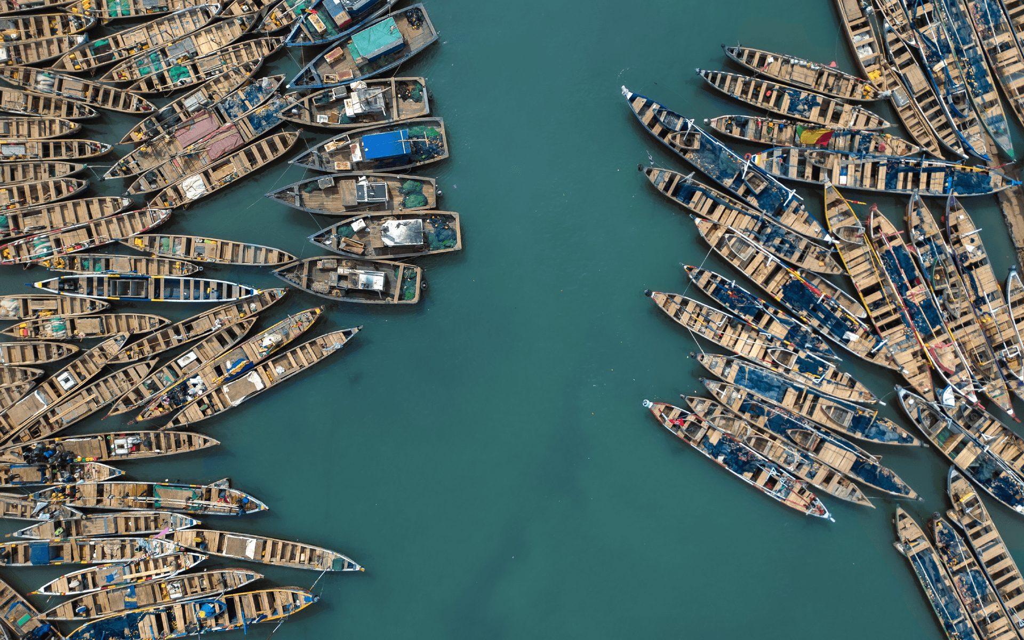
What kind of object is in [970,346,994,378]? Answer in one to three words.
boat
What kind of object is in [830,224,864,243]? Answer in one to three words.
boat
